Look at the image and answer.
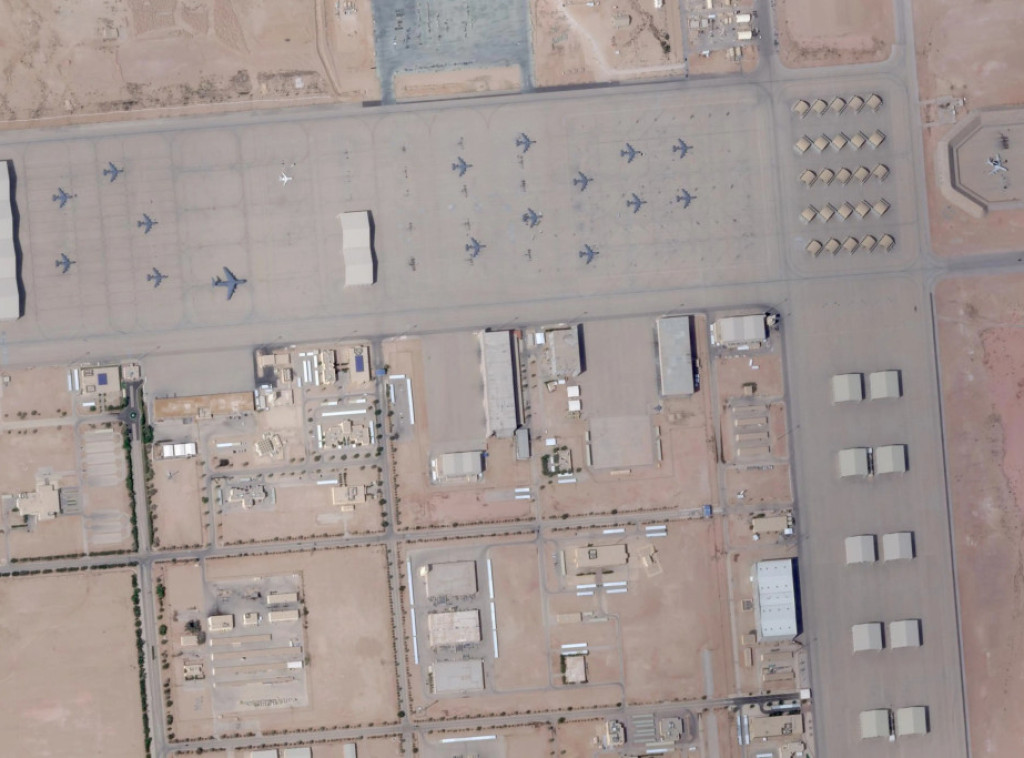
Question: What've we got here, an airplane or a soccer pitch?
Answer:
airplane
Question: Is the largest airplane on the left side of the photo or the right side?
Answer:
left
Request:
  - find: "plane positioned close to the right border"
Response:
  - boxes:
[988,155,1007,173]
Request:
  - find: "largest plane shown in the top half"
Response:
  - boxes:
[210,267,247,301]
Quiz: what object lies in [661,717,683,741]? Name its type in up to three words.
building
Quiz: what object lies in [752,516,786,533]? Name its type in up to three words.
building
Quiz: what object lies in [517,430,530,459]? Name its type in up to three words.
shed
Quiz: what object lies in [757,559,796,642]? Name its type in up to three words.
hangar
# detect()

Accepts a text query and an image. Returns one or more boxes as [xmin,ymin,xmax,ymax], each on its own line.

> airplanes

[579,244,599,263]
[137,214,157,233]
[55,253,75,273]
[279,172,292,186]
[515,133,536,152]
[676,188,696,208]
[52,188,72,207]
[988,155,1007,173]
[103,162,123,181]
[672,139,692,159]
[210,267,247,301]
[147,267,167,287]
[522,207,542,227]
[626,193,647,213]
[451,157,472,176]
[572,171,592,191]
[465,237,485,256]
[620,143,641,163]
